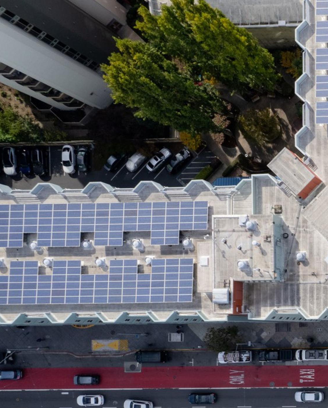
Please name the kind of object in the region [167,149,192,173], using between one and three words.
car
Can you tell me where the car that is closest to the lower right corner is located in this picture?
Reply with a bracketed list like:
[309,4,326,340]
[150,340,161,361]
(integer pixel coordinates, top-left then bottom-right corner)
[295,390,325,404]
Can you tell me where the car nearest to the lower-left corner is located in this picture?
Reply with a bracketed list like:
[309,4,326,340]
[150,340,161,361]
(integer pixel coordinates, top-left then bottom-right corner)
[0,369,24,382]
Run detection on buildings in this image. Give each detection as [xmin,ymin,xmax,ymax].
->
[0,0,127,123]
[0,0,328,331]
